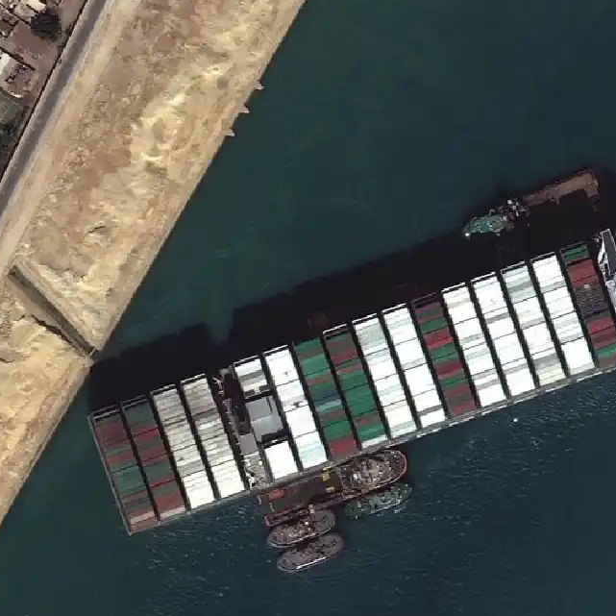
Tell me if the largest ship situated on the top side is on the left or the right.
right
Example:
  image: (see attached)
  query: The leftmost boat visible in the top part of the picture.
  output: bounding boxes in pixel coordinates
[462,198,521,239]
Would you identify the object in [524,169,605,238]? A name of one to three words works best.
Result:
ship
